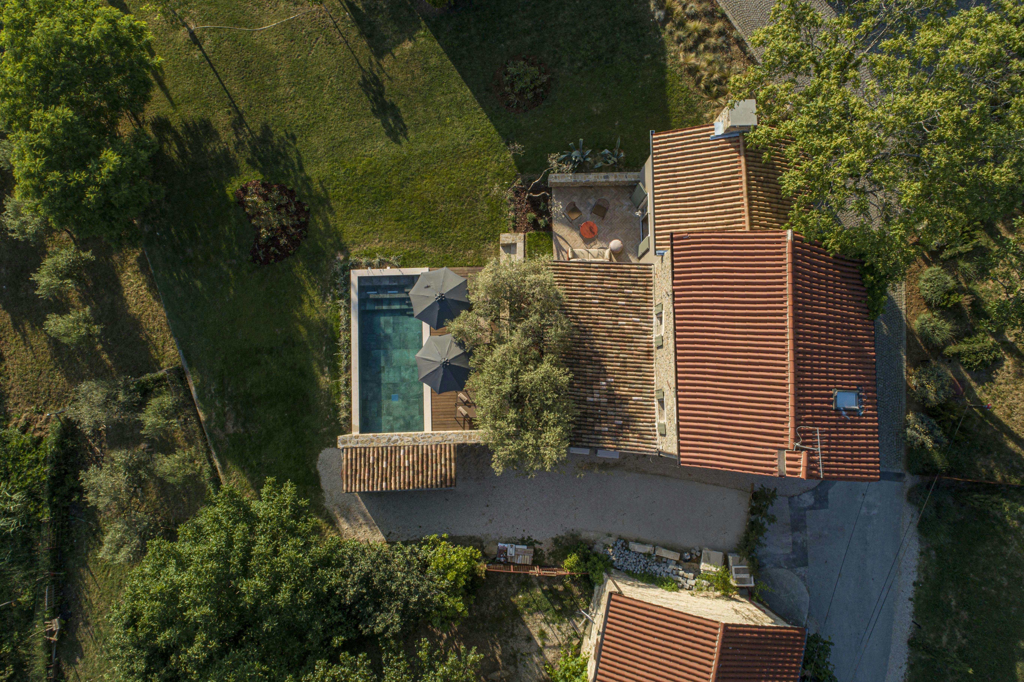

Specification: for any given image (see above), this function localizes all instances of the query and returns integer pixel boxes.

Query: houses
[586,572,809,682]
[651,228,882,483]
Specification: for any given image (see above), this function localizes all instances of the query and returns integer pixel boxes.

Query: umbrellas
[409,266,472,329]
[414,330,476,393]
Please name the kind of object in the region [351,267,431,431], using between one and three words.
swimming pool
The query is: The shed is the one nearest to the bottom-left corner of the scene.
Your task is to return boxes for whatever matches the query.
[341,441,458,495]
